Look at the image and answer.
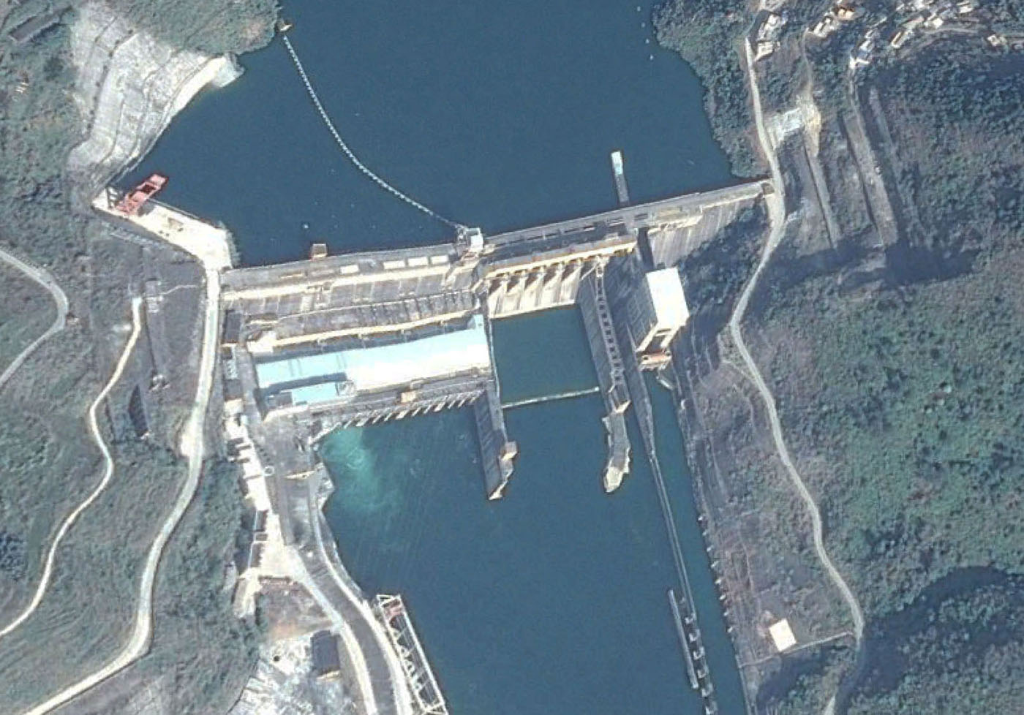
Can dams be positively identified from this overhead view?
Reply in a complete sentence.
Yes, the frame does contain a dam.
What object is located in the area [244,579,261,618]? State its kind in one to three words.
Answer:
building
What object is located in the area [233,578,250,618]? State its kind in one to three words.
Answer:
building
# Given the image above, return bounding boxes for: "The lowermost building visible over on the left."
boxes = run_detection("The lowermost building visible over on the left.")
[309,630,341,682]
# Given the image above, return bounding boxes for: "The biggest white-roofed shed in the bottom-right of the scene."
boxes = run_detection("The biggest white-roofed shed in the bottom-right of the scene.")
[767,620,796,654]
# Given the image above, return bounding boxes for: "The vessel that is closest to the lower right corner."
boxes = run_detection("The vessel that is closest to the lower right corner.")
[668,590,698,688]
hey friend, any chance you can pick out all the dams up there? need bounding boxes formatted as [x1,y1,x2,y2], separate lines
[221,180,774,339]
